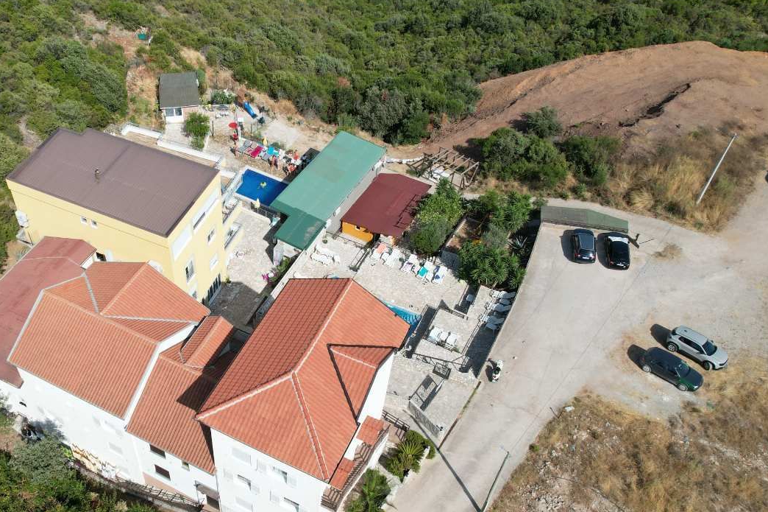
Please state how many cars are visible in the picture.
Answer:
four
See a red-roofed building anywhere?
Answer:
Yes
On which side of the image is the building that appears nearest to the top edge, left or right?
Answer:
left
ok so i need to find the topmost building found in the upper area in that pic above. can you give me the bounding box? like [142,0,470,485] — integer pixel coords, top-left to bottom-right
[160,71,199,125]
